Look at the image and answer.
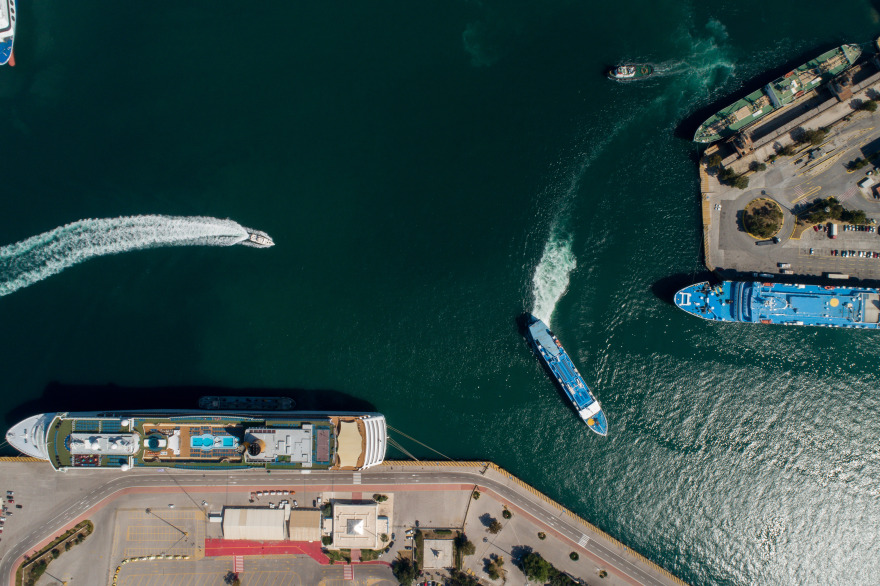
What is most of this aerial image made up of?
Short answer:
water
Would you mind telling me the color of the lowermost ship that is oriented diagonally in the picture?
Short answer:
blue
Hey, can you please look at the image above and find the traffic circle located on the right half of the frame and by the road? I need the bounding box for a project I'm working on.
[743,198,784,240]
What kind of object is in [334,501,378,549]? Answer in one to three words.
building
